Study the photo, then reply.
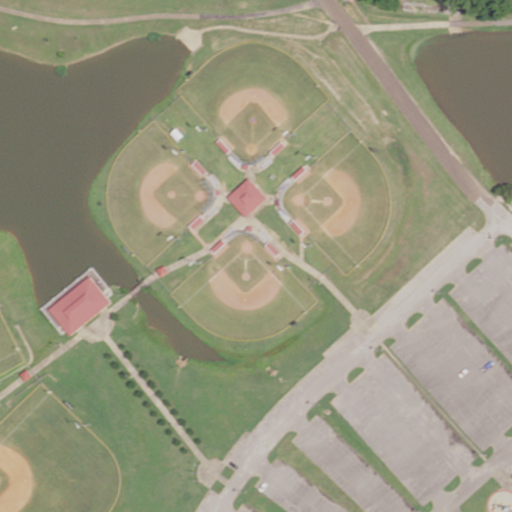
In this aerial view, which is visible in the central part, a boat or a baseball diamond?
baseball diamond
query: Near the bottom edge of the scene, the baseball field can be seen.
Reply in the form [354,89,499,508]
[0,385,120,512]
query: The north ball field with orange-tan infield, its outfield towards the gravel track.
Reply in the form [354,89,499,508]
[178,42,328,167]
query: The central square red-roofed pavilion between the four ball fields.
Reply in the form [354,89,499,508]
[227,178,265,218]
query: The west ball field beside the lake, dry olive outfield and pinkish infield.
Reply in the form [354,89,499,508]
[108,122,216,265]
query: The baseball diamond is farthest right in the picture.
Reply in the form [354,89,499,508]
[282,132,388,274]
